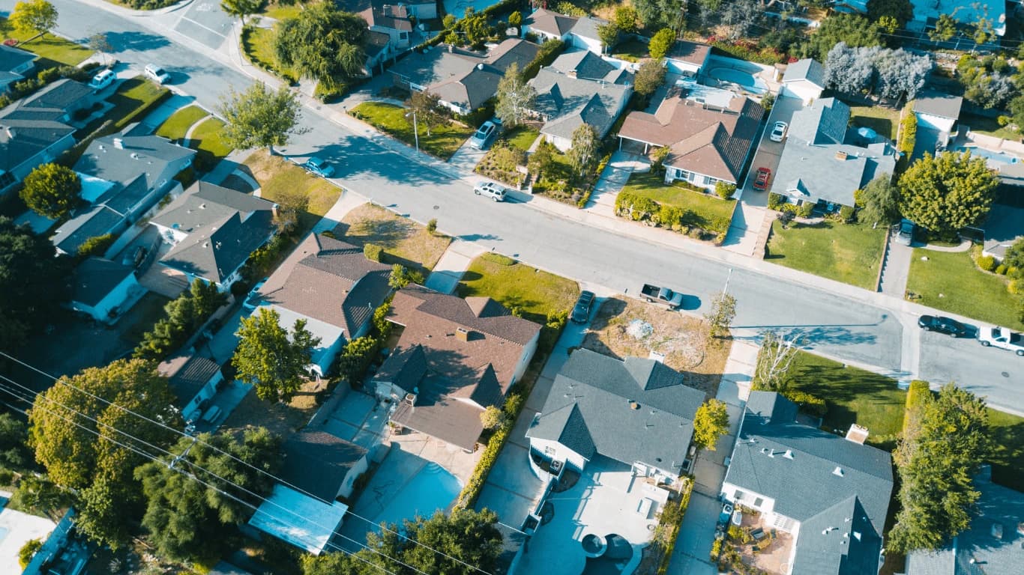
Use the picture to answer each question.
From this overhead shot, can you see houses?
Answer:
Yes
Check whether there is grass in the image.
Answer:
Yes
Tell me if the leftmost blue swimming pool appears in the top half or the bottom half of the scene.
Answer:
bottom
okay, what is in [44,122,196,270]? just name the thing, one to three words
house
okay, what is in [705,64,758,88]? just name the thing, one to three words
swimming pool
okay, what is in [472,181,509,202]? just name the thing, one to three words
car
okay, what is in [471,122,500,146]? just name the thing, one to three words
car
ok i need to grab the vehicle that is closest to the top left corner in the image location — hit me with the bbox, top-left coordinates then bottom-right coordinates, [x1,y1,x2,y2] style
[88,65,122,91]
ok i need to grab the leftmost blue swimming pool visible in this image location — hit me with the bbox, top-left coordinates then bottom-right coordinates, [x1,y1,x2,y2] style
[353,456,466,573]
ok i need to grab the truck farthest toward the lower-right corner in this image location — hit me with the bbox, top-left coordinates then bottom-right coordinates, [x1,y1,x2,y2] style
[979,329,1024,356]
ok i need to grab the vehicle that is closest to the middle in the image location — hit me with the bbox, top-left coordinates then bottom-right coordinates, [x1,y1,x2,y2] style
[567,288,598,326]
